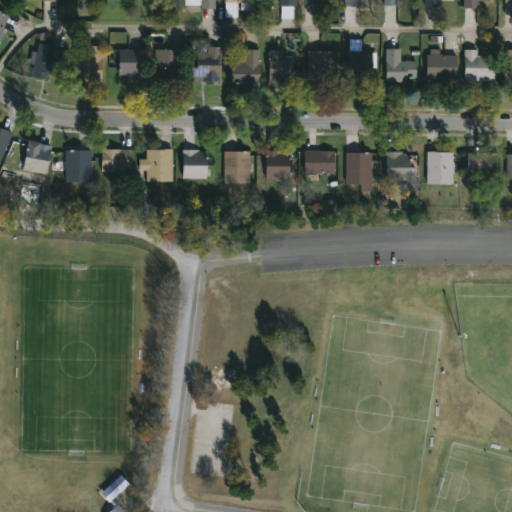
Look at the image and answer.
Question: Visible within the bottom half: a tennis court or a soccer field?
soccer field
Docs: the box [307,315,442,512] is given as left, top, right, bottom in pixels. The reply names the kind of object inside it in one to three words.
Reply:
soccer field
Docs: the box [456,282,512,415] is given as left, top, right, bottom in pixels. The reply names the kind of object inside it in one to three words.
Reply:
sports field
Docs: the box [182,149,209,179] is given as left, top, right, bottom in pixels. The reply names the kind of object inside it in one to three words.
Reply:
house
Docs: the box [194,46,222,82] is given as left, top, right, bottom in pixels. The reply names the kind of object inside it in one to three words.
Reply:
house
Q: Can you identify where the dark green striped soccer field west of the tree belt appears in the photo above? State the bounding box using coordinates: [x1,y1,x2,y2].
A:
[19,264,134,455]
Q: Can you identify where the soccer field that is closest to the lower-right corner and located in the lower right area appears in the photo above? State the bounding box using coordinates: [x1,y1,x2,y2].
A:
[434,442,512,512]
